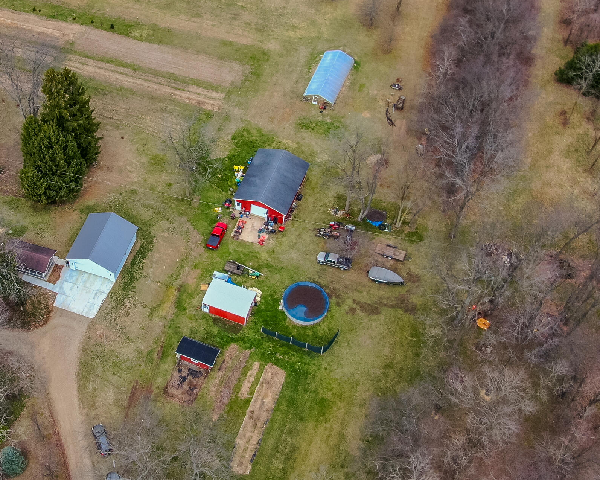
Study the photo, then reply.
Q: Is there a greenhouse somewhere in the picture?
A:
Yes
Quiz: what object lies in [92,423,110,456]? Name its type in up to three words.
car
